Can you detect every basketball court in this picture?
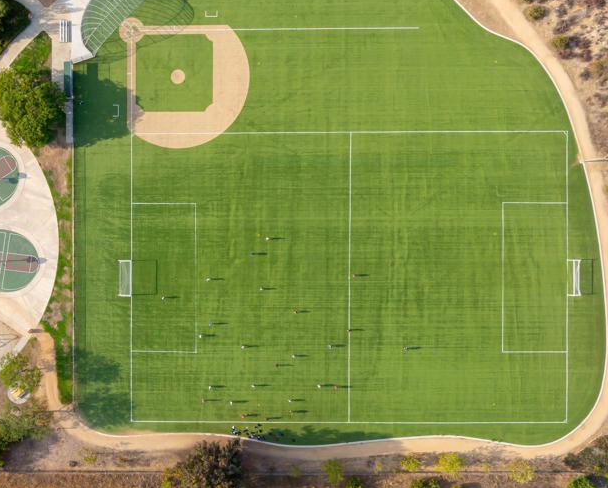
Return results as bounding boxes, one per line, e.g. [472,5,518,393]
[0,229,39,292]
[0,150,19,208]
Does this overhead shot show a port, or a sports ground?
sports ground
